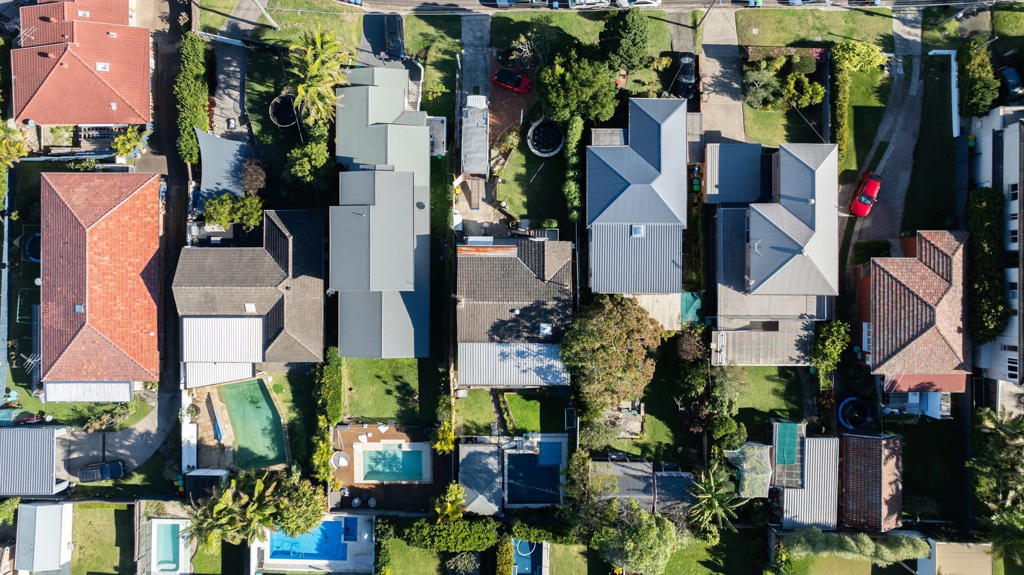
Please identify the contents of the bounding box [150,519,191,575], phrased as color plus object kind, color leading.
white swimming pool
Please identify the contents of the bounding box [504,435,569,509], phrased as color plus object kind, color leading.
black swimming pool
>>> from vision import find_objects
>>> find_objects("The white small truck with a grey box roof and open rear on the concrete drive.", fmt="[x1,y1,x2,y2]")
[461,94,491,177]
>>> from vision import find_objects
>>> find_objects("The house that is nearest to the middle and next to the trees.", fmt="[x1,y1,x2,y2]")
[446,228,572,387]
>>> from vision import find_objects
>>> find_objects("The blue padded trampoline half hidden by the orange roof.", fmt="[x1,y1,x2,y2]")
[14,232,40,263]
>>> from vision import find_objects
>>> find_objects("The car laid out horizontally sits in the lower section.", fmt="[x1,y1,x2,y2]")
[74,458,129,484]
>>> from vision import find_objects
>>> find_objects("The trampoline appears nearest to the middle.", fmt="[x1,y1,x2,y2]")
[527,121,564,158]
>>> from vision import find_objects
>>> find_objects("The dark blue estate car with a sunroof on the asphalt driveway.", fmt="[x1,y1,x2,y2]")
[382,12,405,63]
